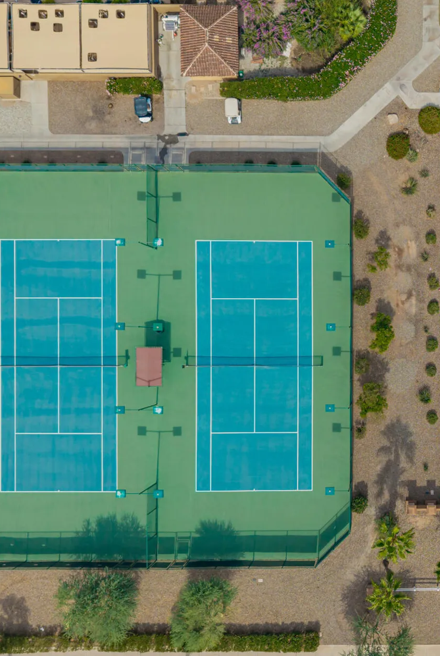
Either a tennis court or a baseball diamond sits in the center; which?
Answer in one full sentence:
Visible in the center is a tennis court.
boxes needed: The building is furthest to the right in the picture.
[178,3,240,81]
